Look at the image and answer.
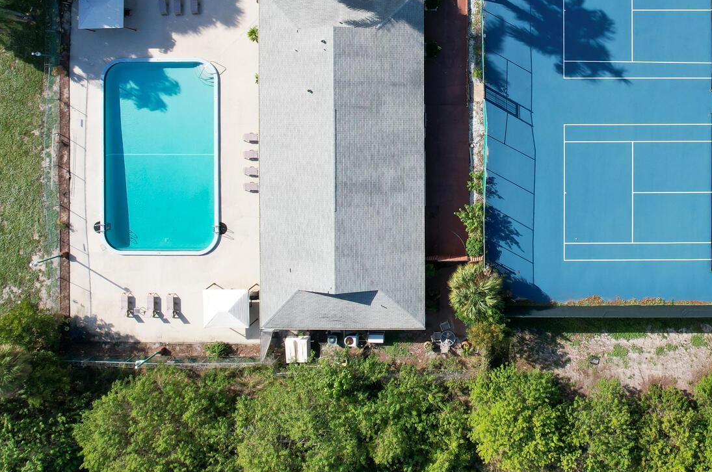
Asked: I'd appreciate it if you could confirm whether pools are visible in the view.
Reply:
Yes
